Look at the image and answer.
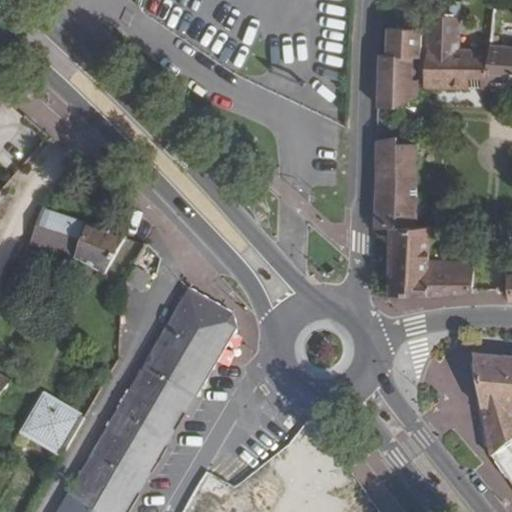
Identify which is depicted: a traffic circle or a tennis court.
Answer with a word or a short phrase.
traffic circle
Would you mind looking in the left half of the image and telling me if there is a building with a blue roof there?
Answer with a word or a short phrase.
No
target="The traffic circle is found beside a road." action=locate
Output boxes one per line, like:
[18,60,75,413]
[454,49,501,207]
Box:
[294,319,354,379]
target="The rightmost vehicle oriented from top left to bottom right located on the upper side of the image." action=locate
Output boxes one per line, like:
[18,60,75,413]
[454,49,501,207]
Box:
[312,80,336,102]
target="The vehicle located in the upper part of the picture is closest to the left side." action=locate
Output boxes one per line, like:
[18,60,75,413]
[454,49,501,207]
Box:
[2,140,22,158]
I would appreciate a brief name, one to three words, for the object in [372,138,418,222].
house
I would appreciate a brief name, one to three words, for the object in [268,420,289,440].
car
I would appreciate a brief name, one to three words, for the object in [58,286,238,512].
building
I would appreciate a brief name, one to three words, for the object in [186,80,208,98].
vehicle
